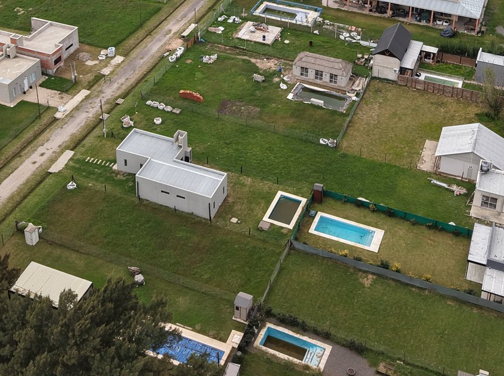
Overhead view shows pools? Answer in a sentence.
Yes, I can see a pool in this picture.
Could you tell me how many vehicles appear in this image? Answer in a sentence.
Not a single vehicle can be seen.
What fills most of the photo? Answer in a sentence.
The largest share of the image is taken up by grass.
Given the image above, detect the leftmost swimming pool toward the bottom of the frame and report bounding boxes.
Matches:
[153,321,230,372]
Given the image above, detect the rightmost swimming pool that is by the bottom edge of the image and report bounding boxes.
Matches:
[256,322,332,367]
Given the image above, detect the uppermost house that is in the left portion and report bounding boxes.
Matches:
[0,22,80,74]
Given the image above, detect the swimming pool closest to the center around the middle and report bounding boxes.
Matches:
[264,191,308,229]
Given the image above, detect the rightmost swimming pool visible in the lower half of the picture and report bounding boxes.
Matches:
[310,211,385,251]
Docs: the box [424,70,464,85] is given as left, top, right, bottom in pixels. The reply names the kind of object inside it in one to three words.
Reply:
swimming pool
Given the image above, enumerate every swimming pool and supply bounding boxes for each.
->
[310,211,385,251]
[424,70,464,85]
[287,83,352,111]
[153,321,230,372]
[254,0,318,21]
[256,322,332,367]
[264,191,308,229]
